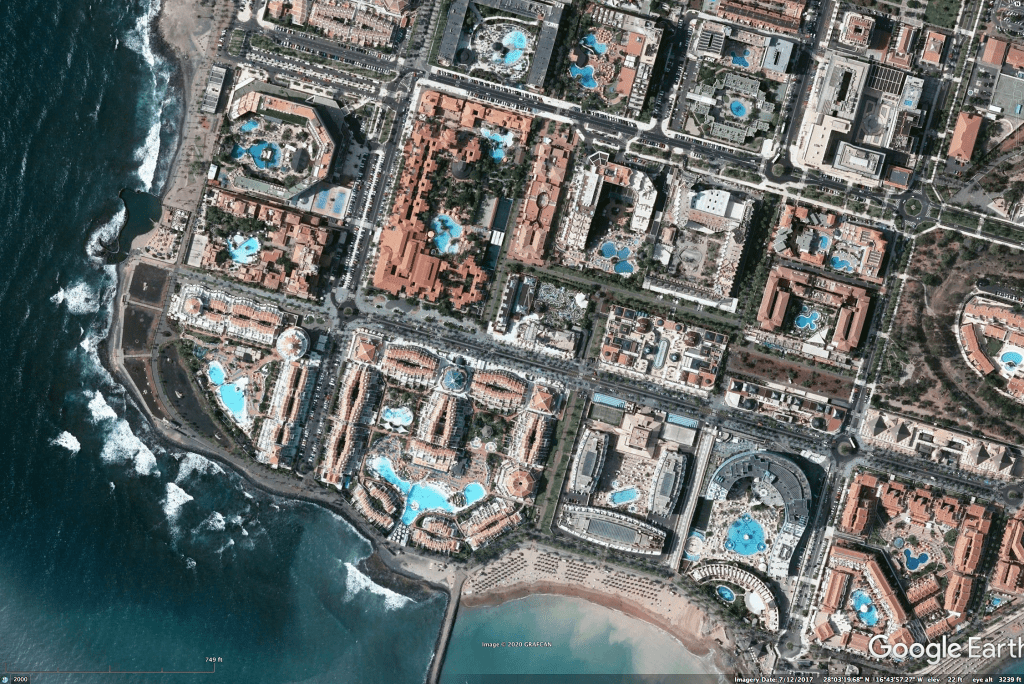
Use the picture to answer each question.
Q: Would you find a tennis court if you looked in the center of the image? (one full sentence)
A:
Yes, there is a tennis court in the center of the image.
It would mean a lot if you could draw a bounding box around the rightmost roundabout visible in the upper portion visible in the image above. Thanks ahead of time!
[898,192,929,222]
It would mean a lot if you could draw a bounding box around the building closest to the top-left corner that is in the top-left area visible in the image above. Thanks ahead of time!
[201,65,229,115]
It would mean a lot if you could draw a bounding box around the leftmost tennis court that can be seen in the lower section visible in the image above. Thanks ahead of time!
[587,402,625,427]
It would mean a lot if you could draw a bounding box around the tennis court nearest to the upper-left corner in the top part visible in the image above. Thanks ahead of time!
[185,234,208,266]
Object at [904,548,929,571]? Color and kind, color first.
blue swimming pool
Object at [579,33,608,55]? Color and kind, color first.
blue swimming pool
